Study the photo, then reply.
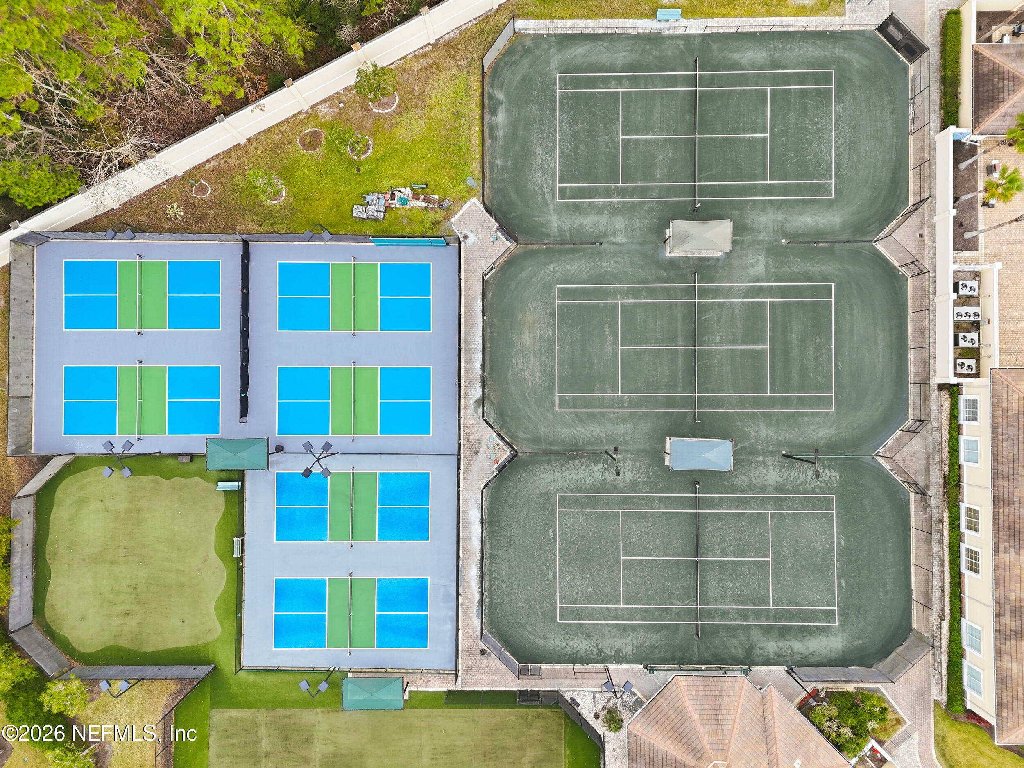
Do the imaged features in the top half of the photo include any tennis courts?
Yes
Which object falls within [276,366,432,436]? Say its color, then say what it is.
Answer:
blue sports court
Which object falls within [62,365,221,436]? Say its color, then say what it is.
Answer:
blue sports court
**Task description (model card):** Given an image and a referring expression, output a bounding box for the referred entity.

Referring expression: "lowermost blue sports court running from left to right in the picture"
[272,577,430,650]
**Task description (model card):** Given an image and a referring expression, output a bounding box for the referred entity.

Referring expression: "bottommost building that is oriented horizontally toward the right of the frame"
[624,671,857,768]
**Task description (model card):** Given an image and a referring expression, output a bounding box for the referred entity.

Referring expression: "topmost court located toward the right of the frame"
[486,31,910,243]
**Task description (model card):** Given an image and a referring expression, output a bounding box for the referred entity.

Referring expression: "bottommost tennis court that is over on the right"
[484,454,912,668]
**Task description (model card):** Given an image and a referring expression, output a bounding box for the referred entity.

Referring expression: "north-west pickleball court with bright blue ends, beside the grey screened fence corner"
[63,259,221,331]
